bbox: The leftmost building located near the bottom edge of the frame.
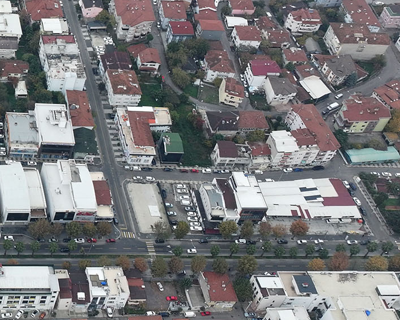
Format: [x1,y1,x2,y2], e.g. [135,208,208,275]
[0,265,58,307]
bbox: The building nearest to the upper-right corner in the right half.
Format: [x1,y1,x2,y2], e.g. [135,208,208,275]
[380,3,400,26]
